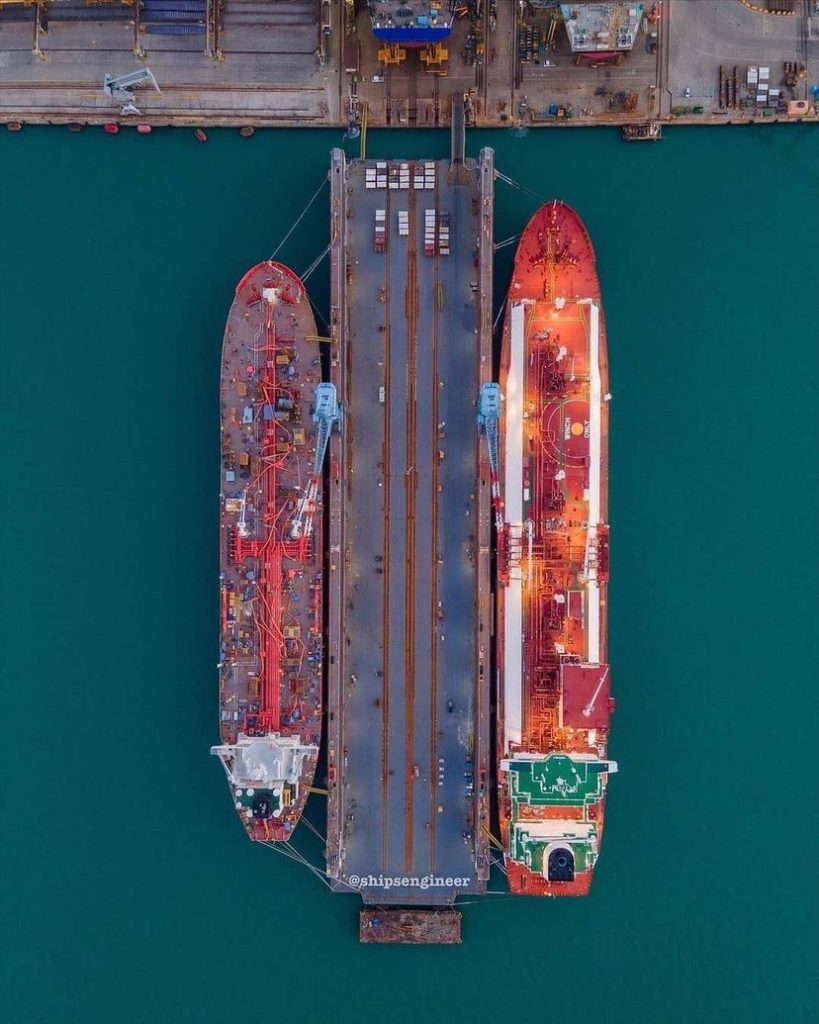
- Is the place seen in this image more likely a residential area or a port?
port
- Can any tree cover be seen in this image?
No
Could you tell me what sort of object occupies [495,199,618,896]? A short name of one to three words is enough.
ship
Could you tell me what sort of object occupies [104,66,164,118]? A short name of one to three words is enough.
crane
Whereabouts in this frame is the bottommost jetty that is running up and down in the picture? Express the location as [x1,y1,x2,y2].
[326,145,494,905]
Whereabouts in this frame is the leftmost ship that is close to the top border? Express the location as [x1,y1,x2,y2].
[370,0,454,47]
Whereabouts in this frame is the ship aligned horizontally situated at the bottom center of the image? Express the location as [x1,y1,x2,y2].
[360,907,463,944]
